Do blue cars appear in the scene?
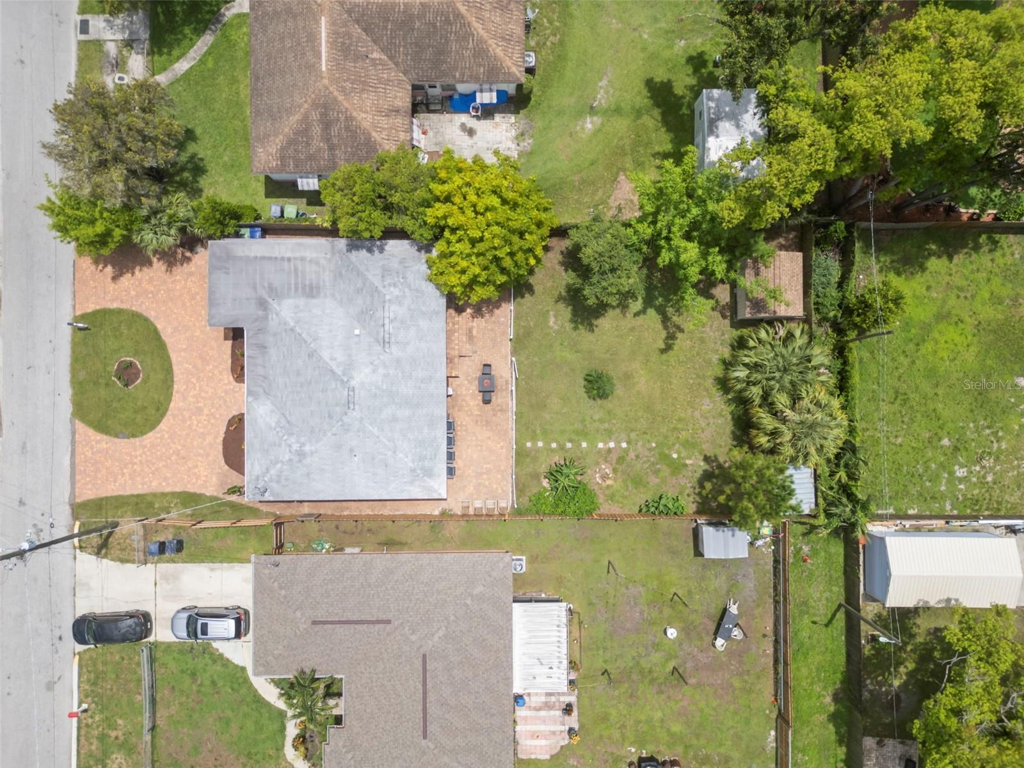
No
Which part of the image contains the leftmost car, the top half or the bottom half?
bottom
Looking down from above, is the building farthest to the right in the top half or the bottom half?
bottom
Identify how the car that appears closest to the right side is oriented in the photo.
from side to side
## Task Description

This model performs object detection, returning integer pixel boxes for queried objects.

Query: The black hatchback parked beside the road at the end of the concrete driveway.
[74,608,155,648]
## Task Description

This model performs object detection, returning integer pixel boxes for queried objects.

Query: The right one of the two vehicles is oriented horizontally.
[173,605,252,643]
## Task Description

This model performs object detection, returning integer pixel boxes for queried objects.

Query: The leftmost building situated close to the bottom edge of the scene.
[251,551,515,768]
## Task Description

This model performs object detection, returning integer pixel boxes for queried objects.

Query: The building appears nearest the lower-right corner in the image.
[864,530,1024,608]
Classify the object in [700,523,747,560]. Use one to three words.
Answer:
shed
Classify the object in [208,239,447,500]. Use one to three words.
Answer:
house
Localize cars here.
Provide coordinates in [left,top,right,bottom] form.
[173,605,252,643]
[74,608,155,648]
